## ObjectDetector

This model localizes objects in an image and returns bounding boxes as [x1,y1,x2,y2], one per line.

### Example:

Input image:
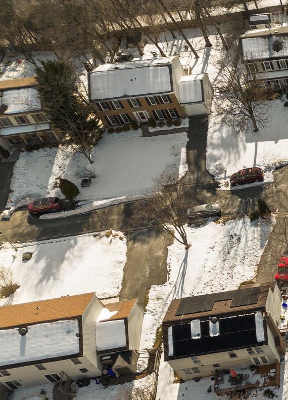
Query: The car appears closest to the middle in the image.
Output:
[186,203,223,221]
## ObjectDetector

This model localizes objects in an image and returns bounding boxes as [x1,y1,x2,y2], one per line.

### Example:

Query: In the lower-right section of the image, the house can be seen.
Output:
[163,282,286,380]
